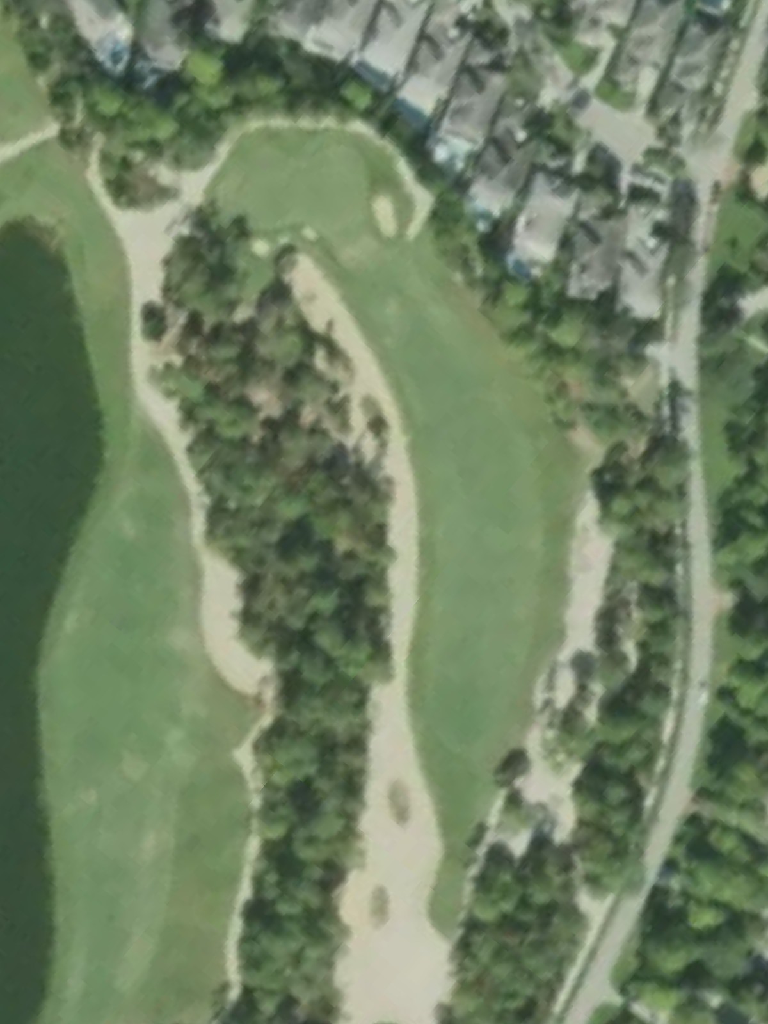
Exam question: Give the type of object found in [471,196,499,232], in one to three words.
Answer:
swimming pool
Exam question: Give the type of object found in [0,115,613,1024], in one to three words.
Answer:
golf course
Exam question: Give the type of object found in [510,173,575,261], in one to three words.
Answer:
house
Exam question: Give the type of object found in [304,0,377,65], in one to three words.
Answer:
house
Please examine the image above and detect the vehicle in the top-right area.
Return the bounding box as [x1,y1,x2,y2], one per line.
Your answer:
[573,91,587,110]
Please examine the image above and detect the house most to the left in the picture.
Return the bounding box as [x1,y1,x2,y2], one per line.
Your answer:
[64,0,134,48]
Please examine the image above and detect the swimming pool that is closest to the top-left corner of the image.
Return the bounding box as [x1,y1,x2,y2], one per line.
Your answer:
[94,31,131,74]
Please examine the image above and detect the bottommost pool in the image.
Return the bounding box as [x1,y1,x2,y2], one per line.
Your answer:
[509,249,544,283]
